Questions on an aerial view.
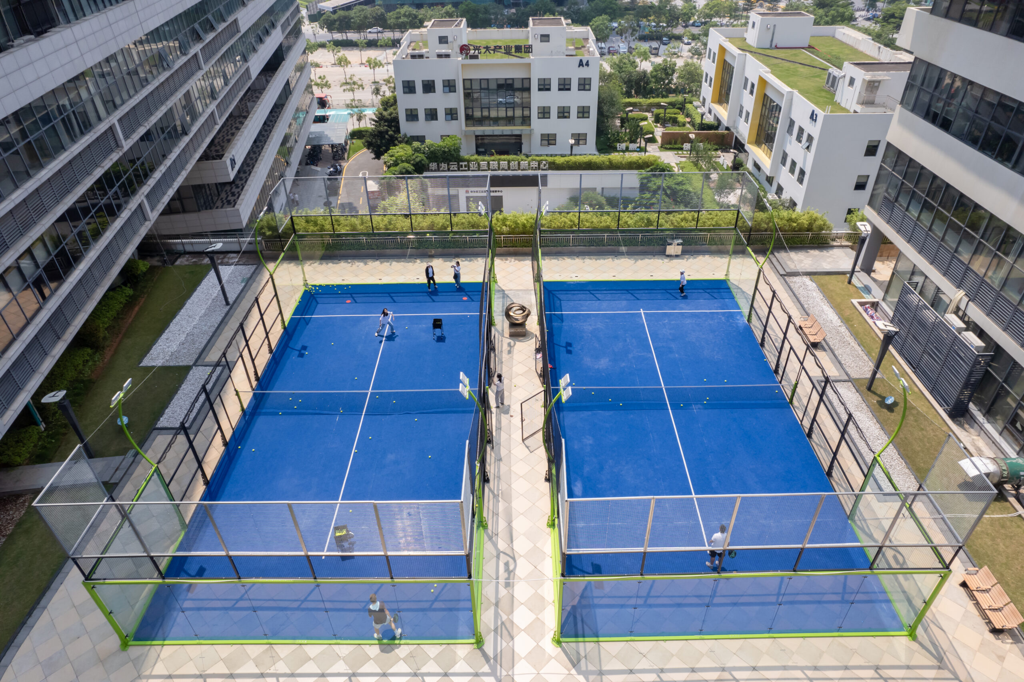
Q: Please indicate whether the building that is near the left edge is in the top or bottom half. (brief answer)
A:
top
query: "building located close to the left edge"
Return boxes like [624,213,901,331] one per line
[0,0,323,466]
